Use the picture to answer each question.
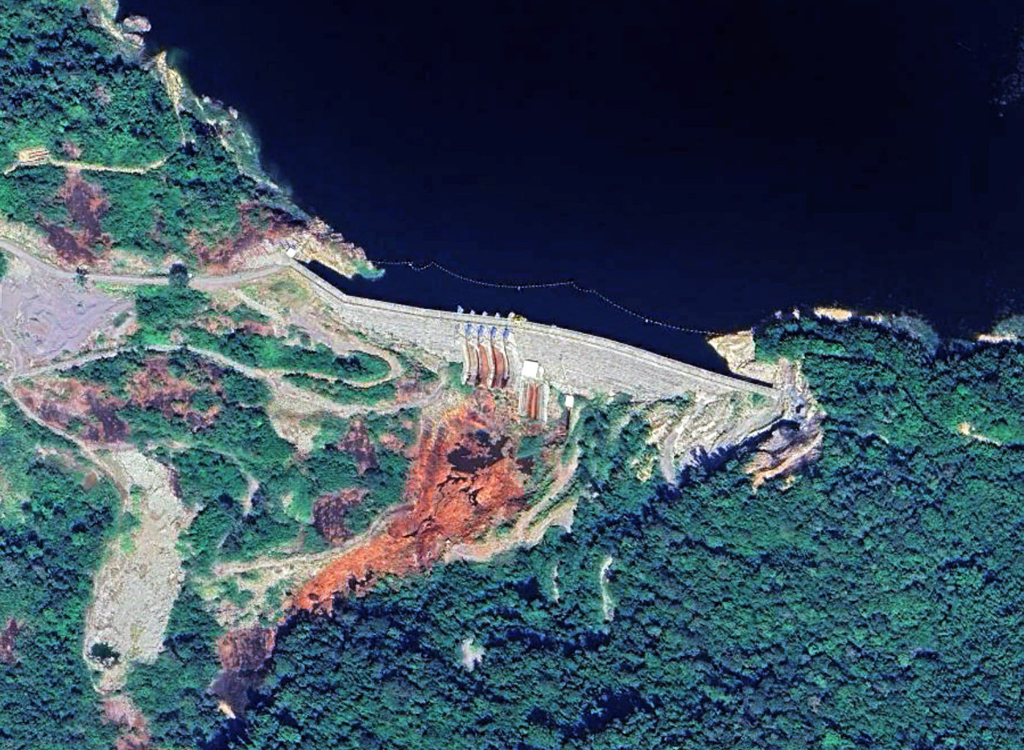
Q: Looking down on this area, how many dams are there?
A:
1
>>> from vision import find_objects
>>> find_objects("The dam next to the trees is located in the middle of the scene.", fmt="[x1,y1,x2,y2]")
[288,257,777,401]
